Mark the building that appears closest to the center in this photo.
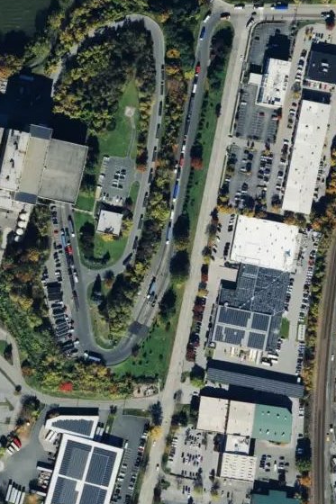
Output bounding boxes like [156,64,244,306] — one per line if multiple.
[97,211,123,236]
